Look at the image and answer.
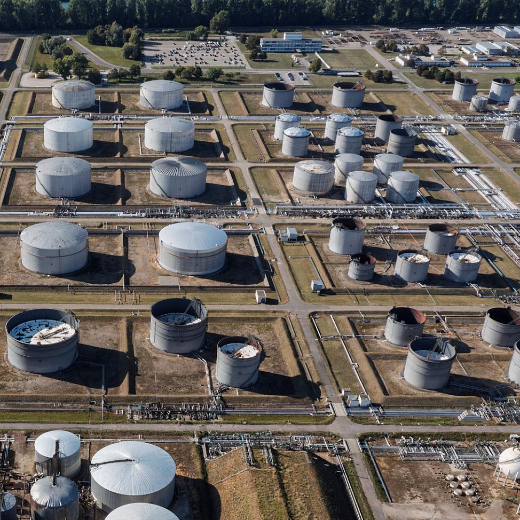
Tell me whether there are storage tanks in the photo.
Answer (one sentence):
Yes, looking at the shot, I can spot a storage tank.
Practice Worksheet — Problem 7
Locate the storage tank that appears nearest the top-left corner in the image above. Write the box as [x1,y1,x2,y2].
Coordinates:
[51,80,96,109]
